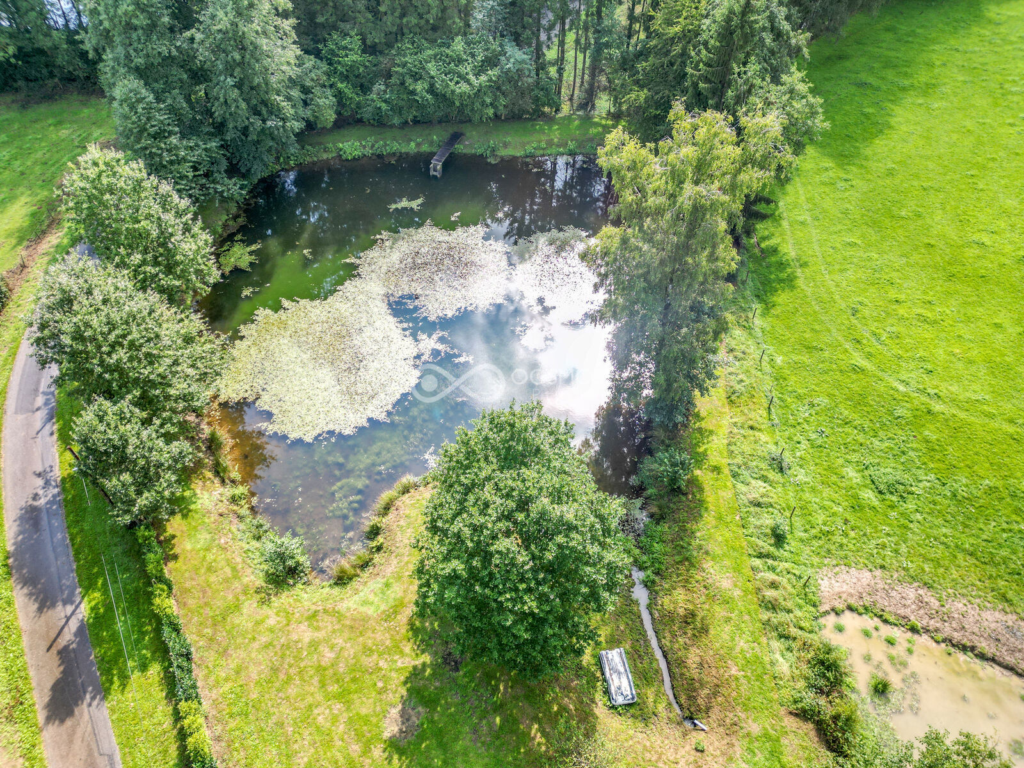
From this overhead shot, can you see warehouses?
No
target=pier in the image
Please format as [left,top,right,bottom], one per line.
[430,132,463,172]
